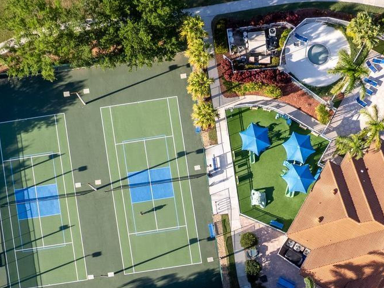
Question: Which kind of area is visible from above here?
sports ground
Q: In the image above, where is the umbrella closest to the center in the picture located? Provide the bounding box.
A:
[239,123,271,156]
